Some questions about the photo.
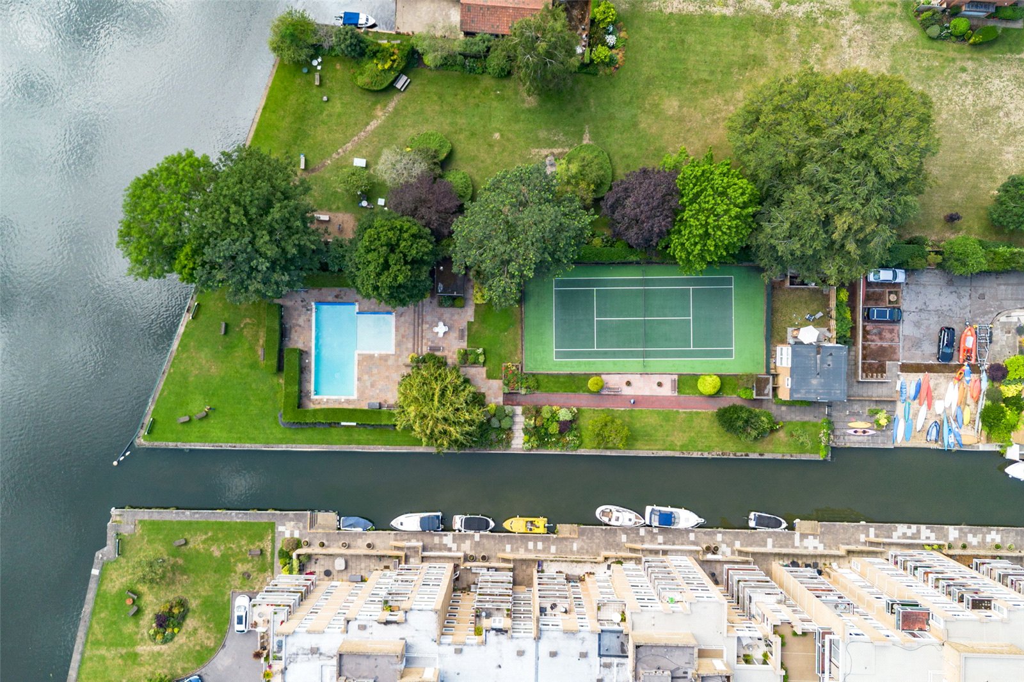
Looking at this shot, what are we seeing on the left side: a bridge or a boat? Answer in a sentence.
The feature located on the left side is a boat.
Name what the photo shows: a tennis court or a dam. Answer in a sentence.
There is a tennis court in the scene.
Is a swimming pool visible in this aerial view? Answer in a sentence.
Yes, I can see a swimming pool in this picture.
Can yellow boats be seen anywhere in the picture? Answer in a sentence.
Yes, a yellow boat appears in the view.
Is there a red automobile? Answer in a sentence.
No, I can see no red automobile in this picture.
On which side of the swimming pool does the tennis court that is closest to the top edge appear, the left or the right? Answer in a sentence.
To the right of the swimming pool is where the tennis court that is closest to the top edge appears.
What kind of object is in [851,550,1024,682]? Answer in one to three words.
building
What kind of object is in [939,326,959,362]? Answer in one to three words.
car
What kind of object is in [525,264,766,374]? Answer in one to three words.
tennis court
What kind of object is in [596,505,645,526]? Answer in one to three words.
boat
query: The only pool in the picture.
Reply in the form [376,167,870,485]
[306,301,396,401]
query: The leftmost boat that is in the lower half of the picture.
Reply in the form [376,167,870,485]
[339,514,373,531]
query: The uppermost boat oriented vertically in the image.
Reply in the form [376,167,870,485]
[960,324,978,366]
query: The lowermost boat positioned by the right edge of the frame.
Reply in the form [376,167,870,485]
[1001,462,1024,482]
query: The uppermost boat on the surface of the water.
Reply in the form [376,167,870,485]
[332,9,376,26]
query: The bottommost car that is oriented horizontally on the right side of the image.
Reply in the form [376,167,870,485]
[866,306,903,322]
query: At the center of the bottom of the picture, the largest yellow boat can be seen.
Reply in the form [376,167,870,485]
[503,517,551,534]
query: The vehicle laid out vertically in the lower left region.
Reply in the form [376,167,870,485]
[230,596,248,634]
